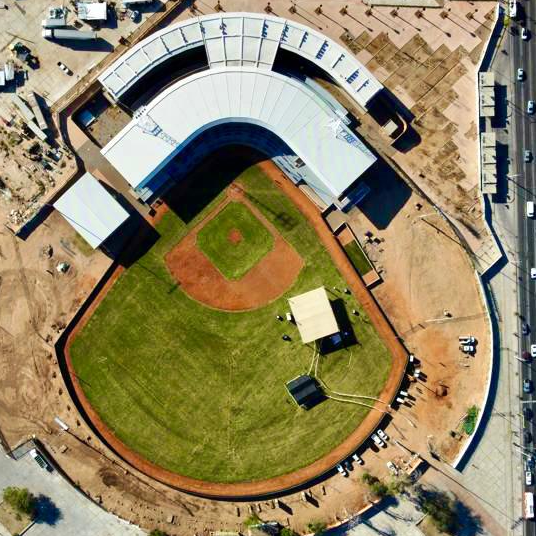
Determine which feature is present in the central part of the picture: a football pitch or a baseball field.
baseball field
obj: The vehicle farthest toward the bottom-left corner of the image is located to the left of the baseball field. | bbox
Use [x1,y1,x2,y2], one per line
[31,451,49,471]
